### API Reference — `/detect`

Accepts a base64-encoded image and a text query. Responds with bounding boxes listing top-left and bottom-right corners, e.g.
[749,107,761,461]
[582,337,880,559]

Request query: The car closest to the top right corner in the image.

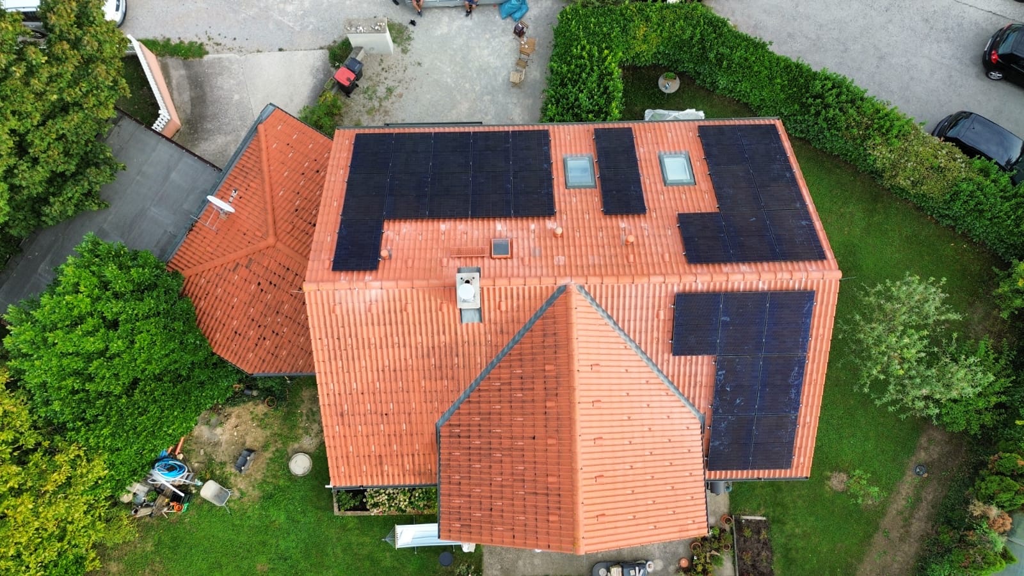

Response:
[980,22,1024,83]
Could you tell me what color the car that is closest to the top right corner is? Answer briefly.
black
